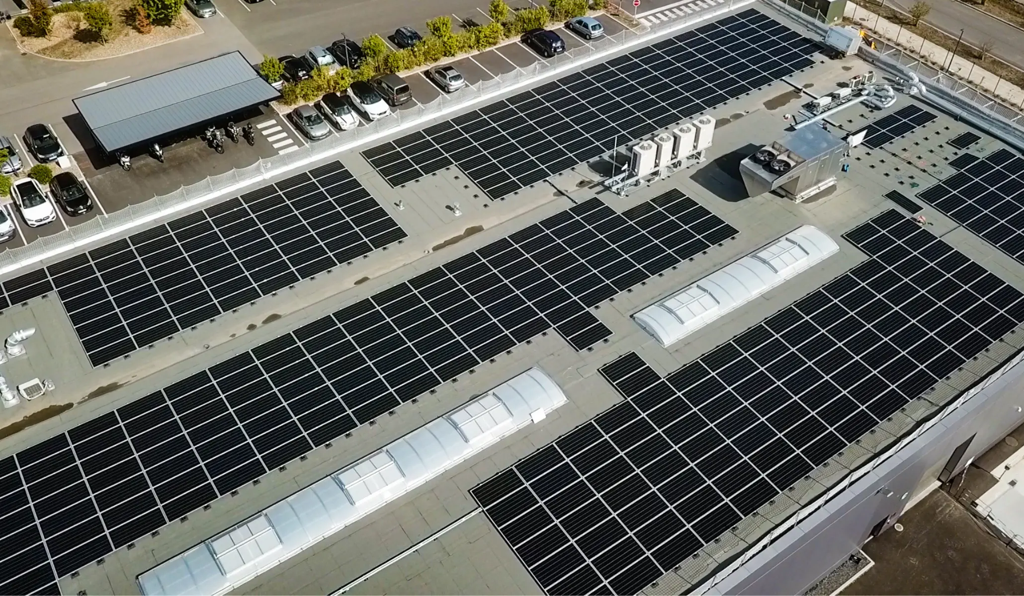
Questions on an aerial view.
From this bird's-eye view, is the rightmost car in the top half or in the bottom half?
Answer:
top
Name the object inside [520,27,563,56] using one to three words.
car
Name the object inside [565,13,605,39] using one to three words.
car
